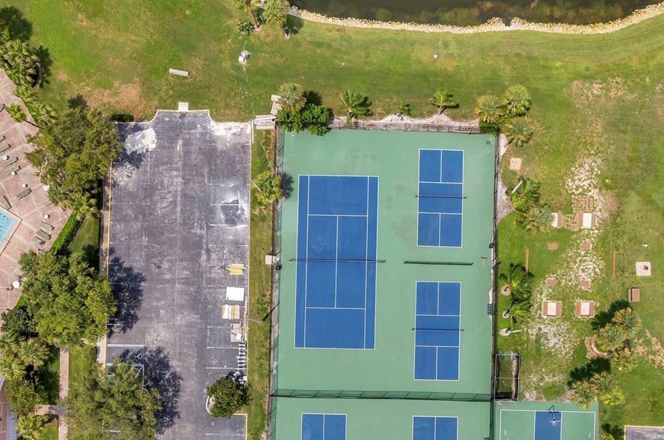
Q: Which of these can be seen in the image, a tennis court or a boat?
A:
tennis court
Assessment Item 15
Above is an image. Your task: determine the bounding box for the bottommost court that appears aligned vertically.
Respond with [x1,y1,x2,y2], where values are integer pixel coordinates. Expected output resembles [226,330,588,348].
[414,281,461,380]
